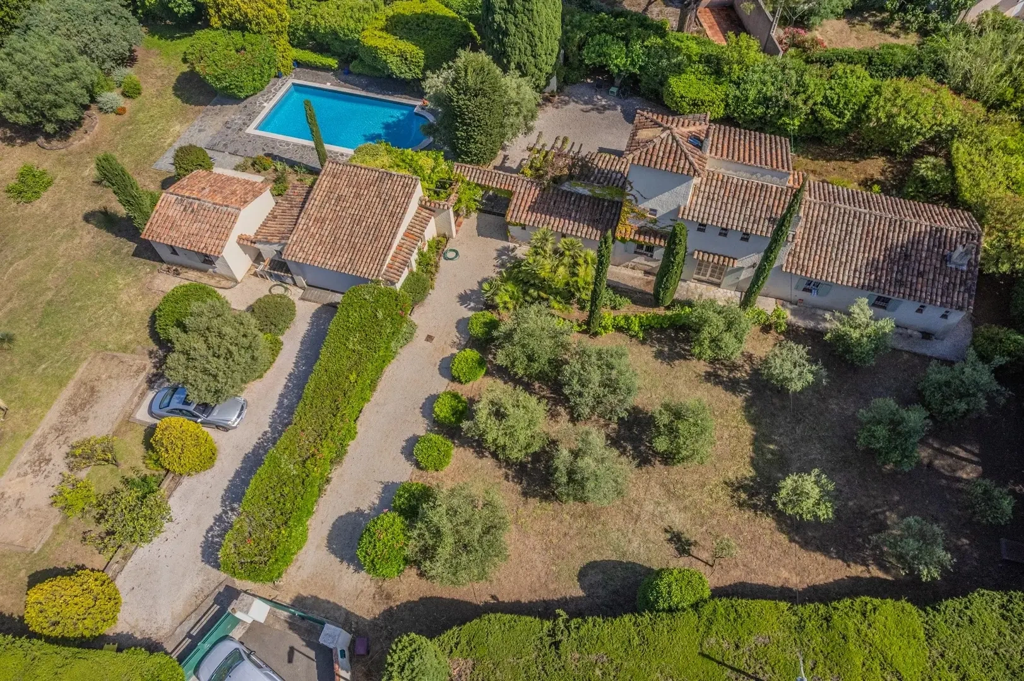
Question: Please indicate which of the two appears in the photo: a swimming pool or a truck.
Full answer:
This aerial view contains a swimming pool.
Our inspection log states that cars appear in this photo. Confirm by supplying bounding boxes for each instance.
[143,388,255,437]
[197,641,271,681]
